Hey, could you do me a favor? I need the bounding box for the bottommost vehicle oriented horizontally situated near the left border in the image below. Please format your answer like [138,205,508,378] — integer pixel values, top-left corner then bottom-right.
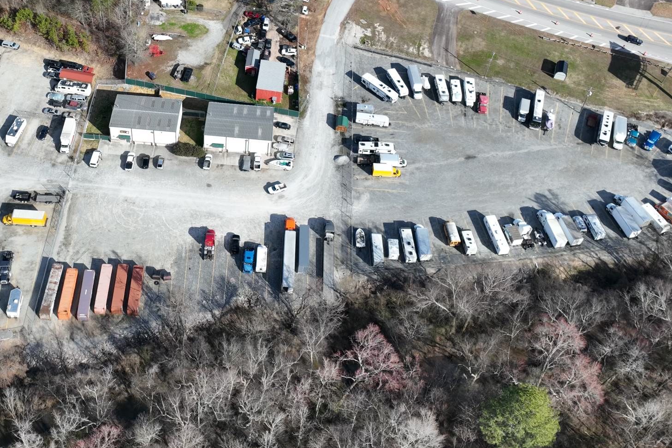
[2,210,48,228]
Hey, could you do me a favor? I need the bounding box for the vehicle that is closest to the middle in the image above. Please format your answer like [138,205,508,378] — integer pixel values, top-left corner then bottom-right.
[324,219,337,242]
